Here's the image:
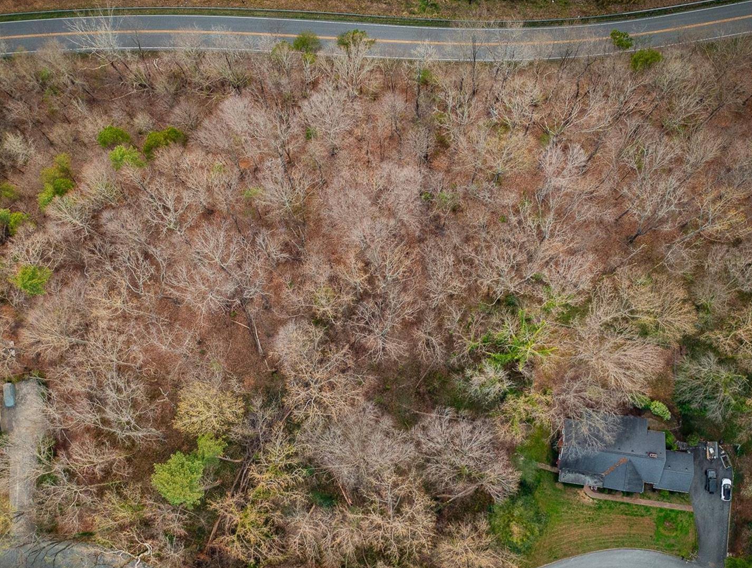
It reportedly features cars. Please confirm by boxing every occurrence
[719,476,734,503]
[705,469,719,494]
